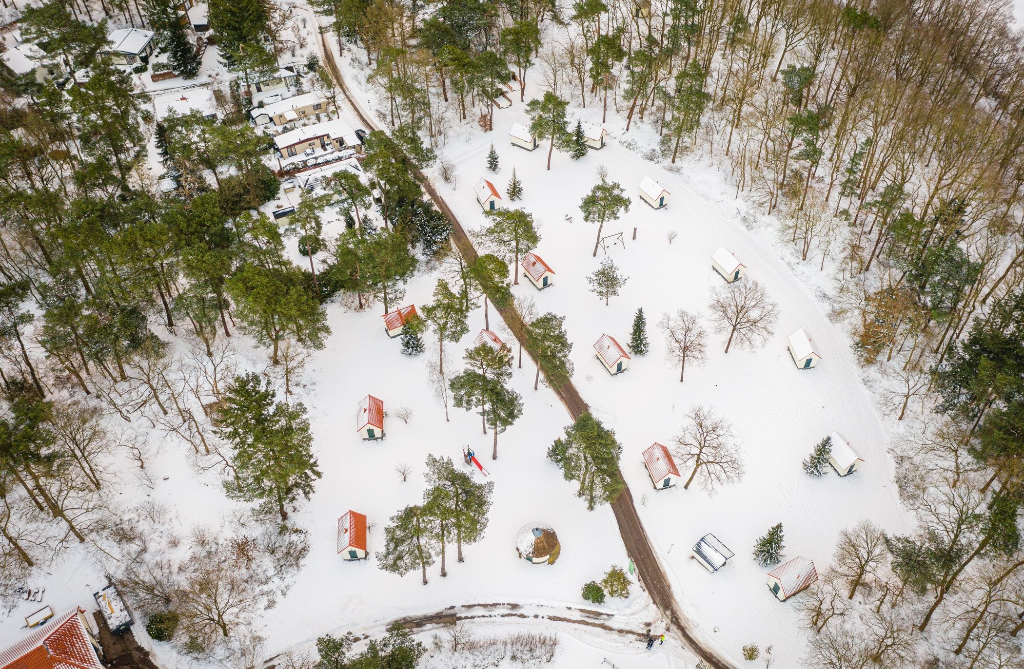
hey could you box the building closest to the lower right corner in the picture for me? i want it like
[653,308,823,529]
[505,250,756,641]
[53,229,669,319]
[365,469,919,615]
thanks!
[767,555,820,603]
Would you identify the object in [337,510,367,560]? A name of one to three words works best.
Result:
building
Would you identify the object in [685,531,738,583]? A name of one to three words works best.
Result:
shed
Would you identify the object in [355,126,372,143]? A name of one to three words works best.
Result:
car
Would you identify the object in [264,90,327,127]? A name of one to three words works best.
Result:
house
